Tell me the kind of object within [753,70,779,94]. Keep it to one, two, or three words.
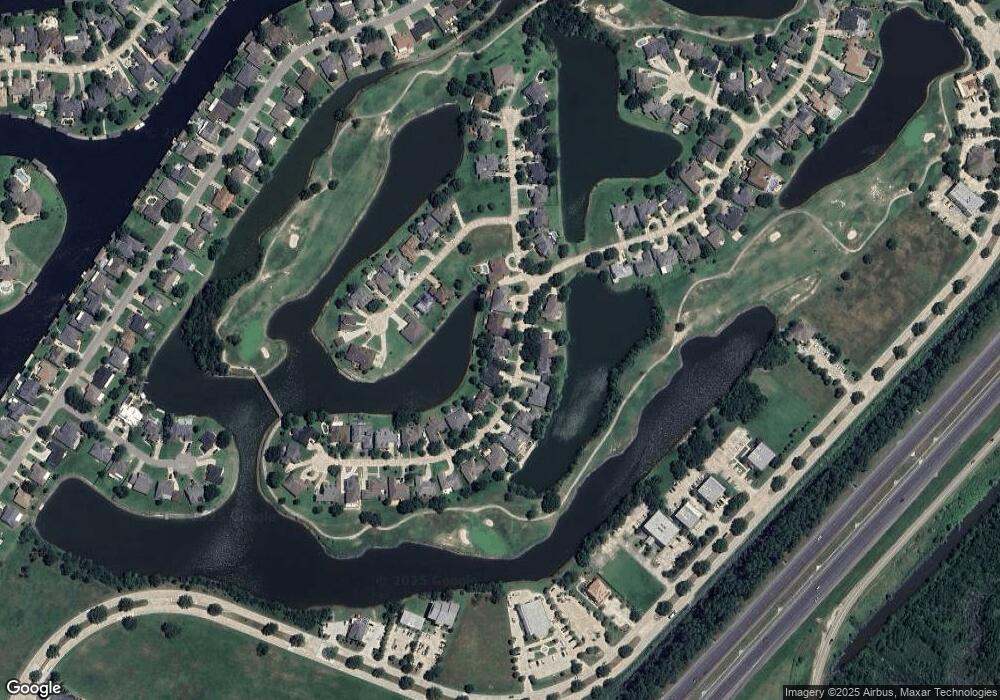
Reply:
house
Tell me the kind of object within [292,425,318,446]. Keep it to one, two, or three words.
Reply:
house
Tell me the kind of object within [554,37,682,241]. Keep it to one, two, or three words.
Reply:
pond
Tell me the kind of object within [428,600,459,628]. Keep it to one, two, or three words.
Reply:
building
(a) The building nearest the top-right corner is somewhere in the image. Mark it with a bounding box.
[953,73,979,98]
